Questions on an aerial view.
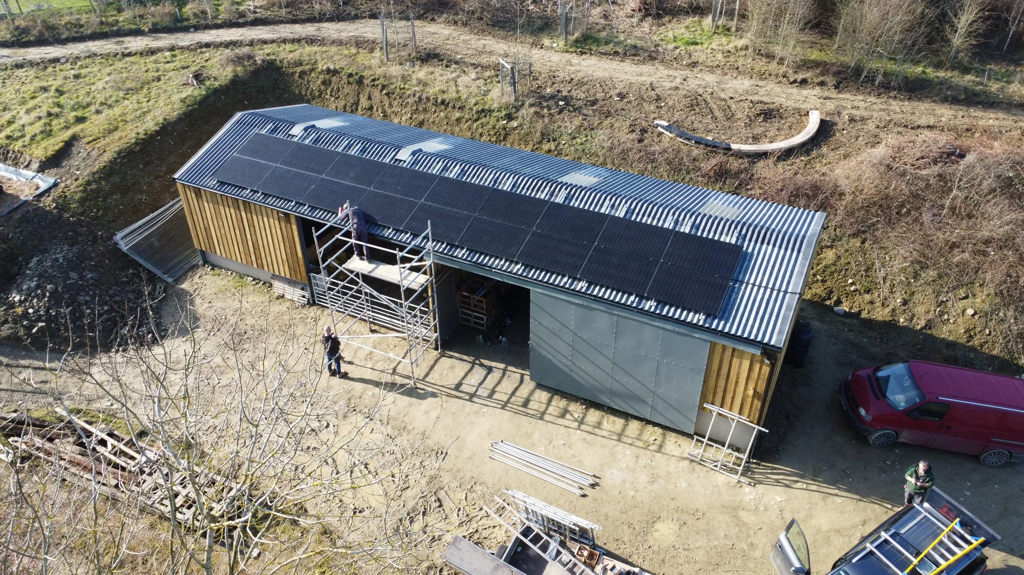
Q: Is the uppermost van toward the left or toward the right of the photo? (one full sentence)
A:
The uppermost van appears in the right half of the scene.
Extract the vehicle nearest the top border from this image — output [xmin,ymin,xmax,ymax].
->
[837,360,1024,476]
